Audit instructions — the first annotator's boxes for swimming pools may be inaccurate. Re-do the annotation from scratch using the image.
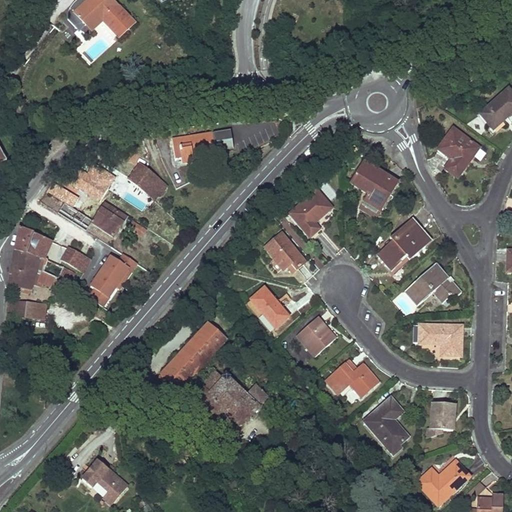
[124,192,146,211]
[84,38,108,61]
[396,294,414,314]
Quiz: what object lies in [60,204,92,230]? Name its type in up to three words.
shed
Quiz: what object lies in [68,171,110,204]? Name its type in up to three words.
barn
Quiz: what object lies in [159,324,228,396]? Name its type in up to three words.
building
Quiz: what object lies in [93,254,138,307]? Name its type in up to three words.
house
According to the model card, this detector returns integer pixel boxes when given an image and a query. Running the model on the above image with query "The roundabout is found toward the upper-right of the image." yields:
[346,72,409,134]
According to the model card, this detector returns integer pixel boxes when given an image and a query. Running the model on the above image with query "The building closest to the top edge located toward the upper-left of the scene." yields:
[68,0,137,40]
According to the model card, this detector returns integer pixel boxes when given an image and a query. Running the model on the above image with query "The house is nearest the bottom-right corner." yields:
[470,482,504,512]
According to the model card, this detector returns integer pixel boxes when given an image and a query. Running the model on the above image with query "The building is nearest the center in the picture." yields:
[264,230,305,275]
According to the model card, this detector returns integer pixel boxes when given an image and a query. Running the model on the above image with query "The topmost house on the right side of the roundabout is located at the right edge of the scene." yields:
[480,84,512,131]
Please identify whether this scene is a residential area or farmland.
residential area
